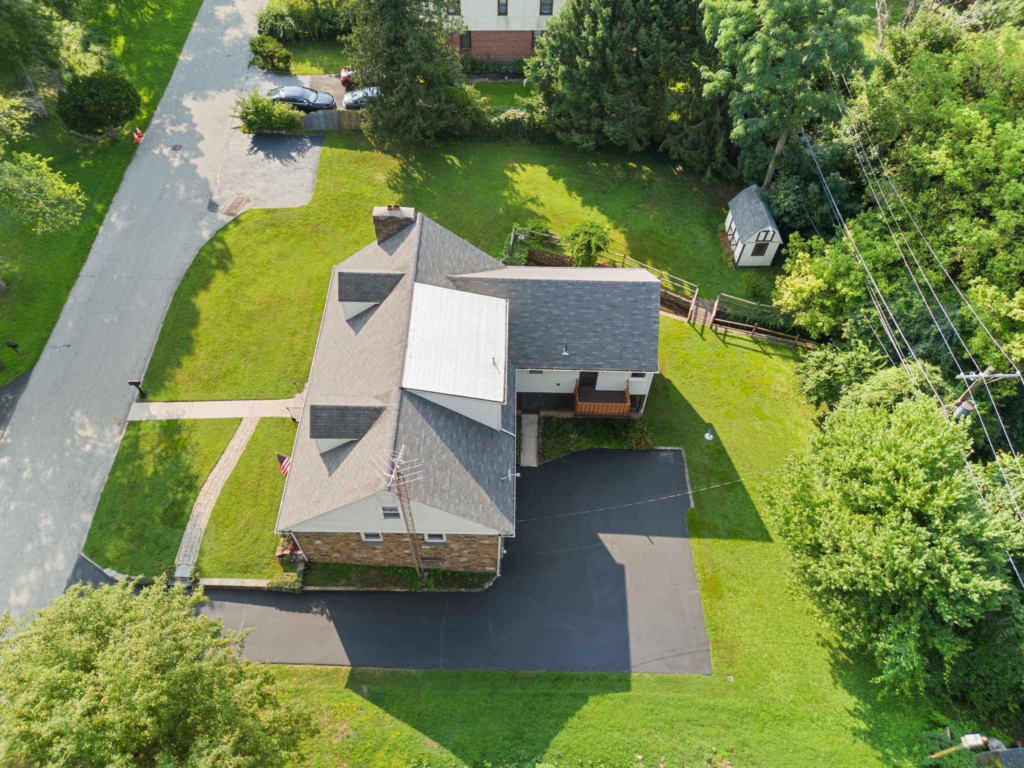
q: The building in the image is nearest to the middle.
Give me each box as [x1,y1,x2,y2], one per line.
[270,203,663,582]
